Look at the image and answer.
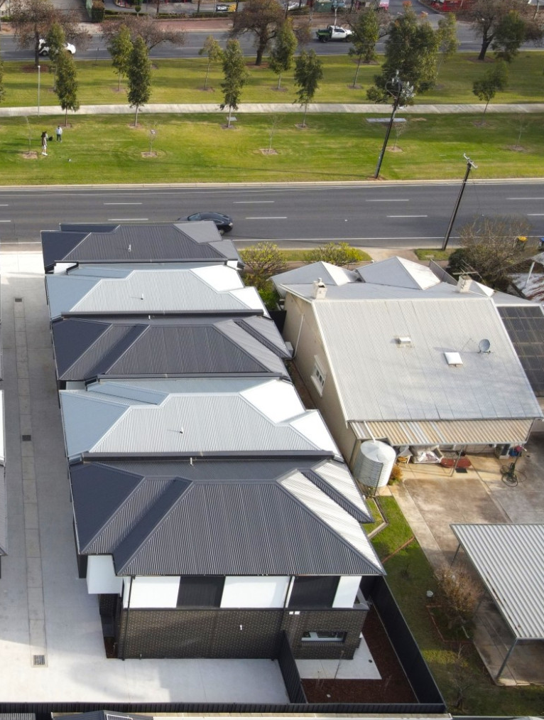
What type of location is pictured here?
residential area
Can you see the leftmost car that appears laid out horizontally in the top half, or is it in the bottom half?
top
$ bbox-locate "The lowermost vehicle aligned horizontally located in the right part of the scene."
[314,29,352,43]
